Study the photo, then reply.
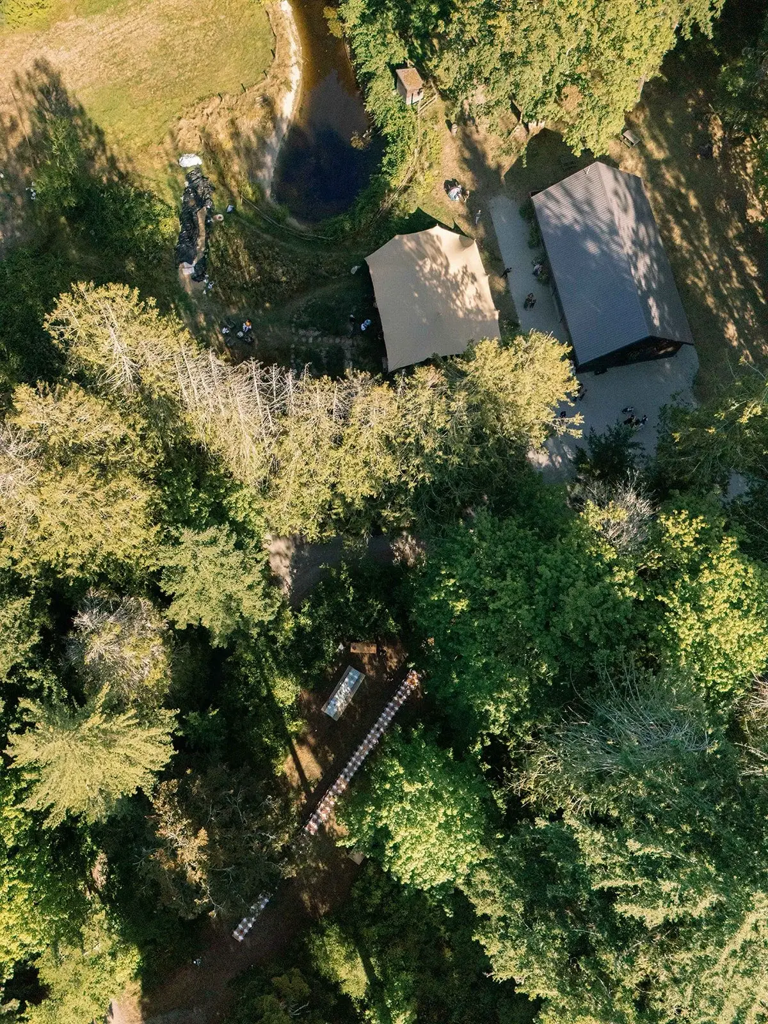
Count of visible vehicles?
0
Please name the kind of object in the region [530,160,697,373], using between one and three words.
barn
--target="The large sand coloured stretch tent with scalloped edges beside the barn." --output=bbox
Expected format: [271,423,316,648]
[352,224,505,387]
